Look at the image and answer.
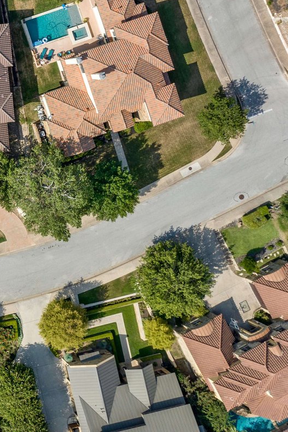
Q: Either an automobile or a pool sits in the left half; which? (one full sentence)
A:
The one visible in the left half is a pool.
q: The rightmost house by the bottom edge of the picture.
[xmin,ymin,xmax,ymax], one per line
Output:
[171,309,288,432]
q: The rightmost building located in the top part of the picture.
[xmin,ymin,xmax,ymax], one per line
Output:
[37,0,187,154]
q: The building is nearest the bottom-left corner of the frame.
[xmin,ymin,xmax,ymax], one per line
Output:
[59,349,202,432]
